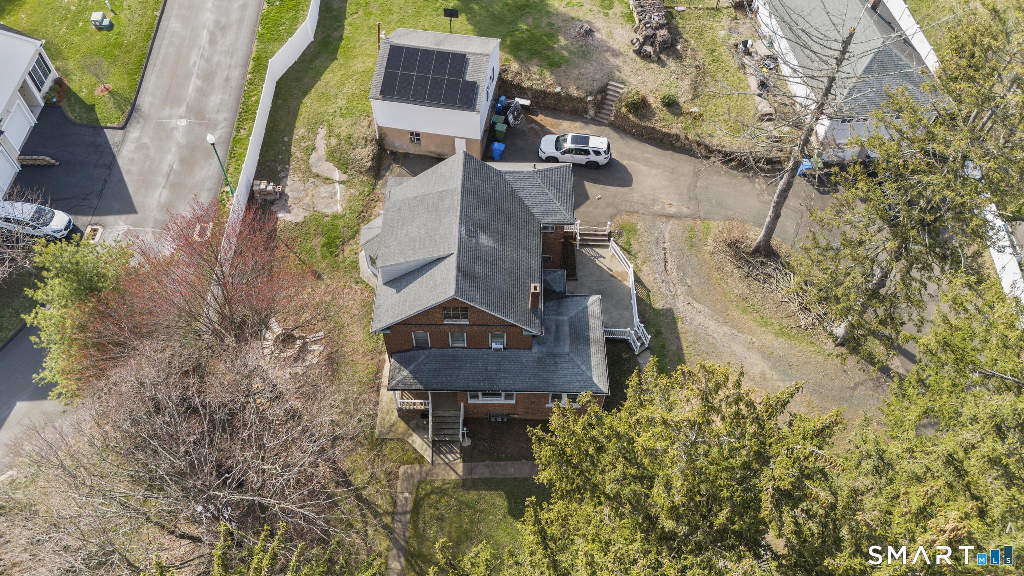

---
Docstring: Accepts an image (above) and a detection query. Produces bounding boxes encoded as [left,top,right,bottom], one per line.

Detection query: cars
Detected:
[536,132,615,173]
[0,200,75,244]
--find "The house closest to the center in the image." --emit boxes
[359,151,610,420]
